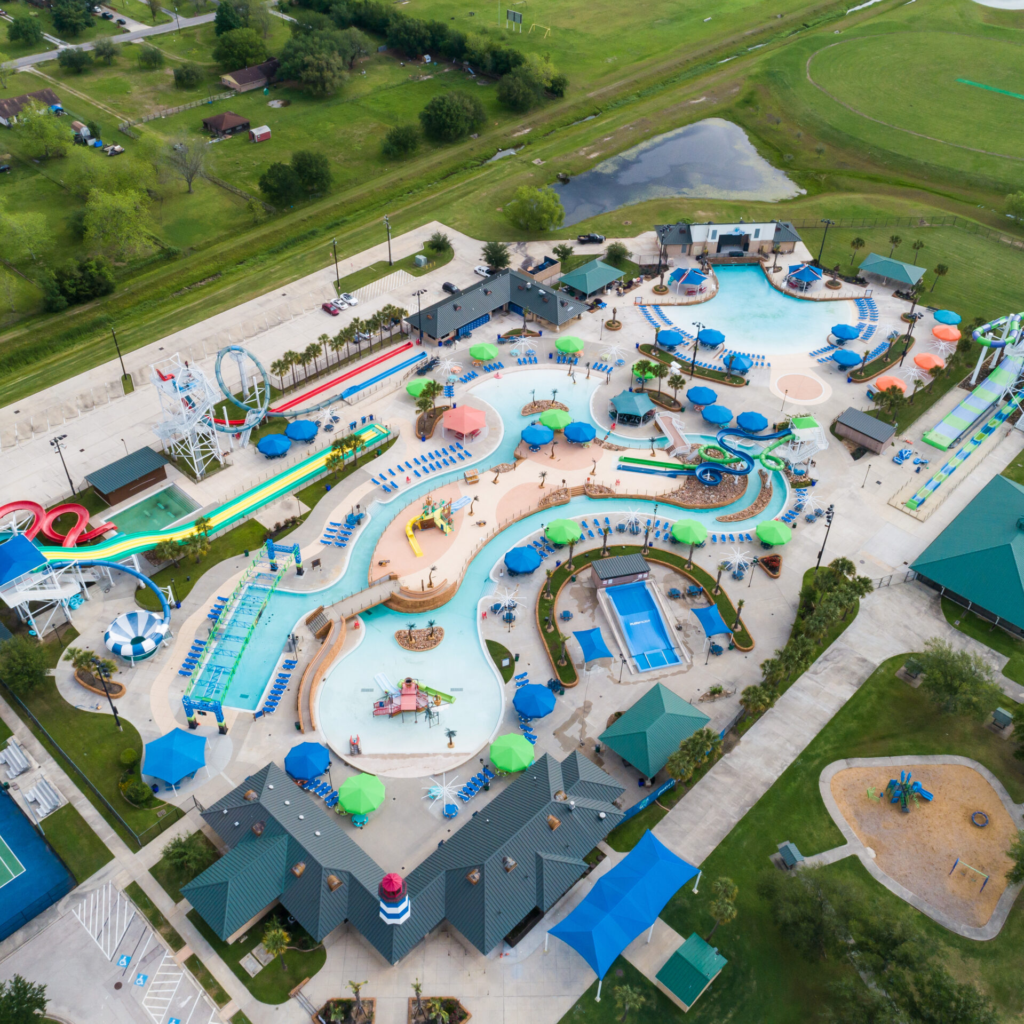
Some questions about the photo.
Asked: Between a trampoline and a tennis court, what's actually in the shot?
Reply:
tennis court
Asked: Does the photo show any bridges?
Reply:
Yes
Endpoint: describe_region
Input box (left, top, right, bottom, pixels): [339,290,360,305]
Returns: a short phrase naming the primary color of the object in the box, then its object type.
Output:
white car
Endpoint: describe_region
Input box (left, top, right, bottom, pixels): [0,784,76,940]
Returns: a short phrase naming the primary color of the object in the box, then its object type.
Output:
blue tennis court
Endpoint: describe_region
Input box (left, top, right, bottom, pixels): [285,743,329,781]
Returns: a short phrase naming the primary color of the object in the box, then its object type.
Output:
blue umbrella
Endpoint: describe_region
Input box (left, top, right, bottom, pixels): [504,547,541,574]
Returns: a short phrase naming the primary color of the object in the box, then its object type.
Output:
blue umbrella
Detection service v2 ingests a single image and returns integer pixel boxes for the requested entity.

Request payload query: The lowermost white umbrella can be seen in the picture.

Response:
[420,771,468,812]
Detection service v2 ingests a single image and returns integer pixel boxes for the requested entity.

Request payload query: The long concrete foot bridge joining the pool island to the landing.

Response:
[322,576,457,622]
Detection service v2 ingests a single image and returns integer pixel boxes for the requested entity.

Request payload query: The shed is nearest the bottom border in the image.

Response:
[655,933,728,1014]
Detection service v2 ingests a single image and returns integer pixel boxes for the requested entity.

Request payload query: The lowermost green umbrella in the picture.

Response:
[340,775,385,814]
